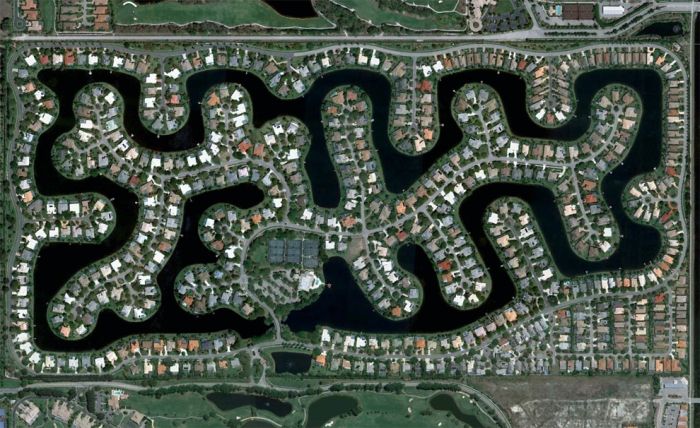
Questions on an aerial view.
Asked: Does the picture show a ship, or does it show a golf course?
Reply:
golf course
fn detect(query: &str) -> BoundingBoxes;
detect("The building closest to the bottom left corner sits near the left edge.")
[15,399,40,425]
